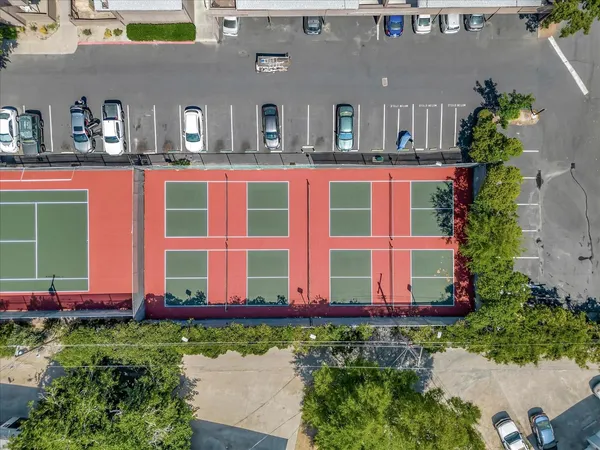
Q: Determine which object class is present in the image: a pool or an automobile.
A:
automobile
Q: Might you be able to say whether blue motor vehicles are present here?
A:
Yes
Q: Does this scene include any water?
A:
No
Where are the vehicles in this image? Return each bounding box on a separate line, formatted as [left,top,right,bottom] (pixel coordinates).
[223,16,240,36]
[496,421,526,450]
[438,16,459,33]
[0,107,18,154]
[183,108,203,152]
[19,113,45,155]
[102,104,125,155]
[464,16,483,32]
[335,106,356,151]
[261,106,281,151]
[305,16,321,33]
[413,16,431,33]
[529,419,559,450]
[72,109,101,152]
[384,16,402,36]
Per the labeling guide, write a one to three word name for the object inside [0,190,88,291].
tennis court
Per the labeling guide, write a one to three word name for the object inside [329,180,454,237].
sports court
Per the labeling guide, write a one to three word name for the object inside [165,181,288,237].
sports court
